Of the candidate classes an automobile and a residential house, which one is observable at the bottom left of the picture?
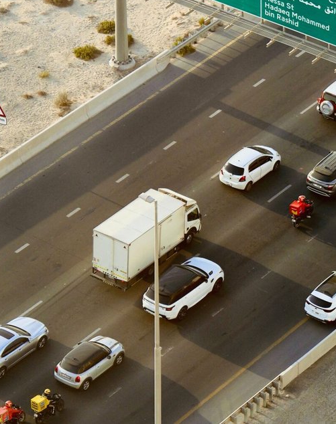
automobile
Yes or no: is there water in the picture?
No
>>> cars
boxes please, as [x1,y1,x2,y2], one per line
[139,258,225,324]
[0,315,50,377]
[311,79,336,123]
[52,334,126,390]
[305,149,336,199]
[303,268,336,324]
[219,144,282,191]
